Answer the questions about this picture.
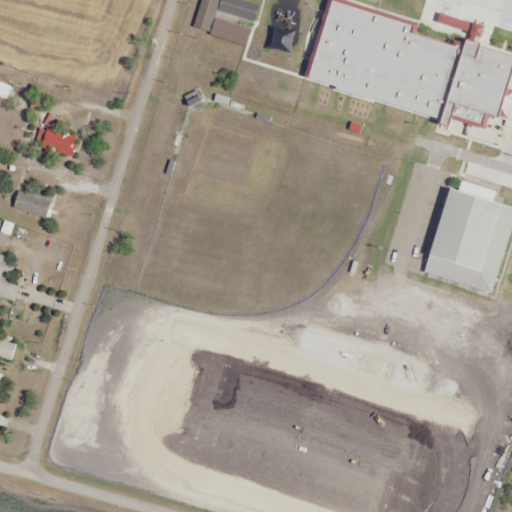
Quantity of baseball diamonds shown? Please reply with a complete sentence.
The photo contains exactly 1 baseball diamond.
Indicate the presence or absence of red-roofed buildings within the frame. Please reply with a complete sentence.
Yes, there's a red-roofed building here.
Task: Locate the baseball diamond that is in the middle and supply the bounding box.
[138,104,388,316]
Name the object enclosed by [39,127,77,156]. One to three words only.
house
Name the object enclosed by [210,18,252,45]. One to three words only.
shed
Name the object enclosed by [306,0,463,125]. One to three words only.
building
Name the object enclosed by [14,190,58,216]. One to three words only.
house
